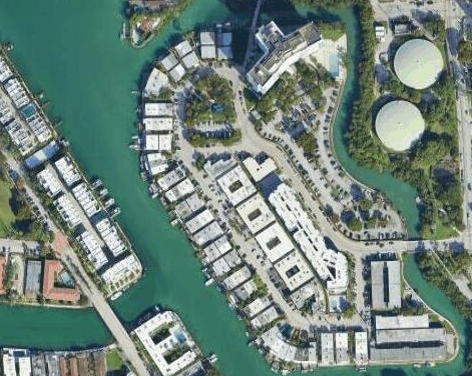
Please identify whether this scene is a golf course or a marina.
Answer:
marina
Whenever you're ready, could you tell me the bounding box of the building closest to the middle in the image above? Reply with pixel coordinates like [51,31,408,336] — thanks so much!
[217,166,257,206]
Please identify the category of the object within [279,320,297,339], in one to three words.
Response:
swimming pool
